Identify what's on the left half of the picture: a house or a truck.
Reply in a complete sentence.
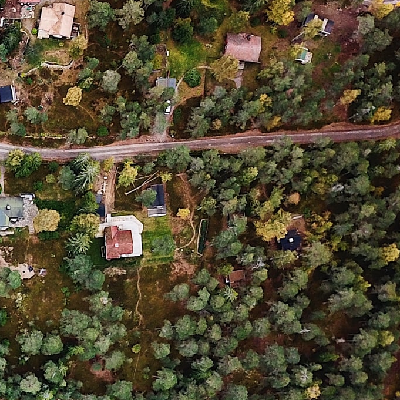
You can see a house on the left half of the picture.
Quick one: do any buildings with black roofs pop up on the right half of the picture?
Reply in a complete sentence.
Yes, a building with a black roof appears on the right half of the picture.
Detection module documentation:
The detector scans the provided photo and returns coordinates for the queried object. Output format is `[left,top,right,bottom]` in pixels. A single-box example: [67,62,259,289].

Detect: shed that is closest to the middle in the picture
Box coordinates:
[147,184,165,216]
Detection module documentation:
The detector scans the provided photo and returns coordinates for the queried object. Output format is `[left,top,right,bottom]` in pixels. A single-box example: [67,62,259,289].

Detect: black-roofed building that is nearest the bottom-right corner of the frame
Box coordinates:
[279,230,301,249]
